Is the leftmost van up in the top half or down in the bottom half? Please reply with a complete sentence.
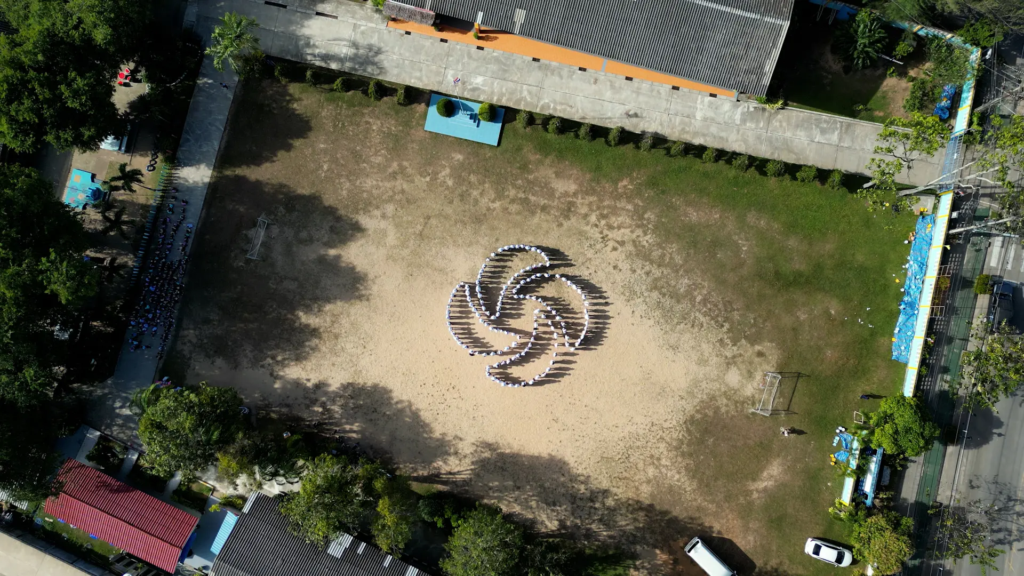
The bottom half of the photo is where the leftmost van is.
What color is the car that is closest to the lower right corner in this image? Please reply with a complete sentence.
The color of the car that is closest to the lower right corner is white.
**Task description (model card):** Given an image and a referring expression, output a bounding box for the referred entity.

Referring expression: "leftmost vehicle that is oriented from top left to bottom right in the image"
[683,535,737,576]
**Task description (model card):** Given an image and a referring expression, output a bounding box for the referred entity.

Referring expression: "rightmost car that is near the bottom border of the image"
[804,538,852,567]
